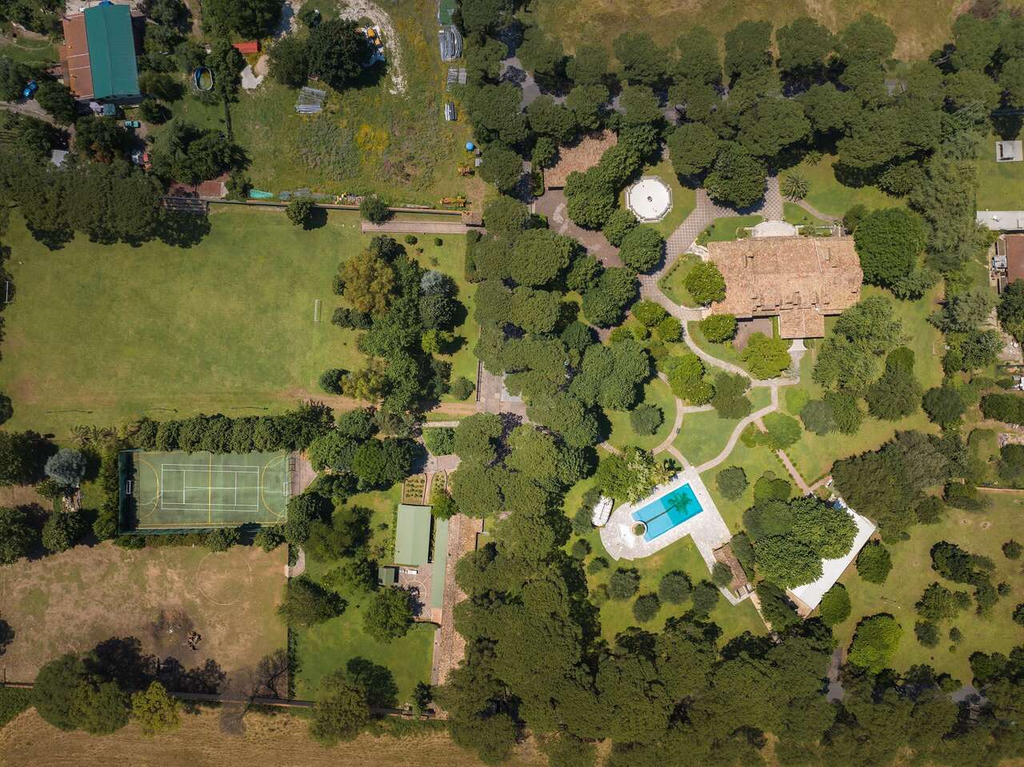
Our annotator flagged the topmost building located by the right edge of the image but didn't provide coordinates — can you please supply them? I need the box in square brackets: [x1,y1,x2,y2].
[989,141,1023,165]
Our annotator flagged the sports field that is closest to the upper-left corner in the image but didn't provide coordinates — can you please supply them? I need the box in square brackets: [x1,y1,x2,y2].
[0,234,343,424]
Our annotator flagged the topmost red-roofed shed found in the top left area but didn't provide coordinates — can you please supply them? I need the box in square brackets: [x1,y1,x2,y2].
[233,42,262,58]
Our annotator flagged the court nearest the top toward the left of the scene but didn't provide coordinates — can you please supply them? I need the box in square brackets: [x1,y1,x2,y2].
[126,449,288,531]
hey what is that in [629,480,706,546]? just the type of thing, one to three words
swimming pool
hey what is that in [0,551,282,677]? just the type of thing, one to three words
sports field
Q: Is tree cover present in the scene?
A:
Yes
